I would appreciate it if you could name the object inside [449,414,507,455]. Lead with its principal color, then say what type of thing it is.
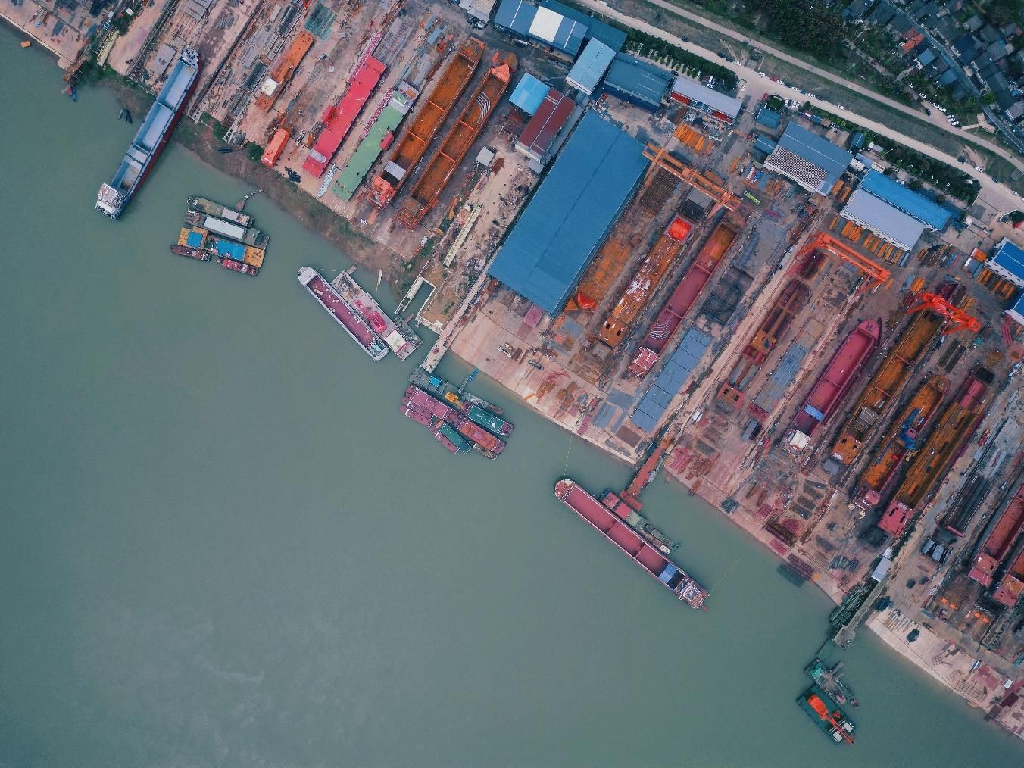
red ship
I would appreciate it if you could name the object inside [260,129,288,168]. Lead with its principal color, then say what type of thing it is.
red boat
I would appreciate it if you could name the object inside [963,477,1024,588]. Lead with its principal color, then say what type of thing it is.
red ship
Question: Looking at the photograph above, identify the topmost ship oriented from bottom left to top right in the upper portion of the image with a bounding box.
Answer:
[256,34,312,112]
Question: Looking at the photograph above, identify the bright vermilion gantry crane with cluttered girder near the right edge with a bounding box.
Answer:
[904,288,980,339]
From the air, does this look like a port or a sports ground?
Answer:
port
